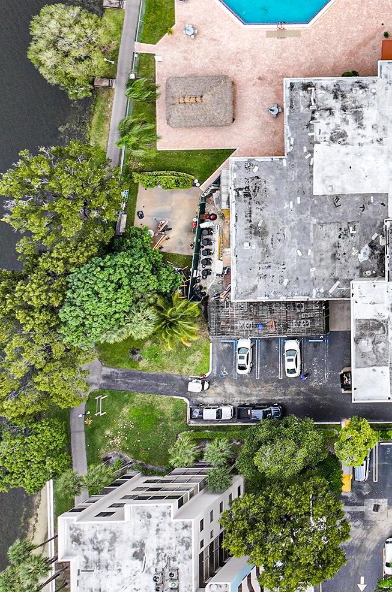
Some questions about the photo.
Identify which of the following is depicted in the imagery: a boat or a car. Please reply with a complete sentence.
It is a car that can be seen here.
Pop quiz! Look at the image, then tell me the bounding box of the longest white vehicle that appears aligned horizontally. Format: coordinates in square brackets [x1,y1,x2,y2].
[194,404,235,422]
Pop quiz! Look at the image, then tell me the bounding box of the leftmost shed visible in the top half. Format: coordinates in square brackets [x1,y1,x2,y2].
[163,73,236,129]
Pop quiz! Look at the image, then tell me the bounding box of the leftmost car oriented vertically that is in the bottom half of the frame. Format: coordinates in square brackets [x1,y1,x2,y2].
[235,338,254,375]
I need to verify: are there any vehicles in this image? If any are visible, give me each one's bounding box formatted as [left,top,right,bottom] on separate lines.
[235,338,254,375]
[353,450,370,484]
[188,376,214,390]
[238,403,281,421]
[283,339,302,377]
[383,537,392,573]
[194,404,235,422]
